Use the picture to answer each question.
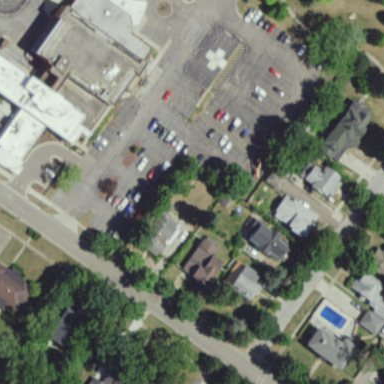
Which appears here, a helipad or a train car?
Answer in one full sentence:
Visible in the photo is a helipad.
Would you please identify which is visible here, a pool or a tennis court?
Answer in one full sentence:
Of the two, only a pool appears.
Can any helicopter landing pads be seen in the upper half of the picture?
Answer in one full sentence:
Yes, looking in the upper half of the picture, one can make out a helicopter landing pad.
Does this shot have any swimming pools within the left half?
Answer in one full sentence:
No, within the left half there is no swimming pool.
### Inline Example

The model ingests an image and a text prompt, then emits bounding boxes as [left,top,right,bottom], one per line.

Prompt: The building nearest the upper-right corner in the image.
[323,98,376,166]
